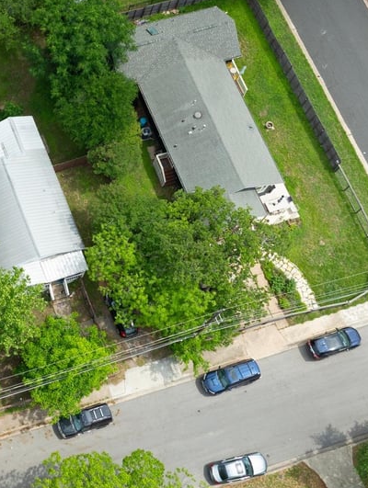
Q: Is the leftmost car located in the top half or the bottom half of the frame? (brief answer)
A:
bottom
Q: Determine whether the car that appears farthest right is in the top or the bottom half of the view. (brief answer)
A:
bottom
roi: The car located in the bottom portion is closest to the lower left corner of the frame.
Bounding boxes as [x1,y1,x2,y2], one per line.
[55,403,114,440]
